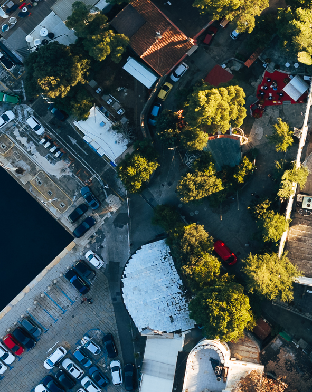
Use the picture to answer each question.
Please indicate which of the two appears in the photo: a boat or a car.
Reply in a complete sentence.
Looking from above, you can make out a car.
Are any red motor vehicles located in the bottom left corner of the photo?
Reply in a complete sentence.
Yes, a red motor vehicle shows up in the bottom left corner of the photo.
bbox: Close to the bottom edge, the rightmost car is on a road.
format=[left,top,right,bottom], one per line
[119,364,136,392]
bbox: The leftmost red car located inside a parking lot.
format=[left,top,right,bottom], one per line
[0,334,24,357]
